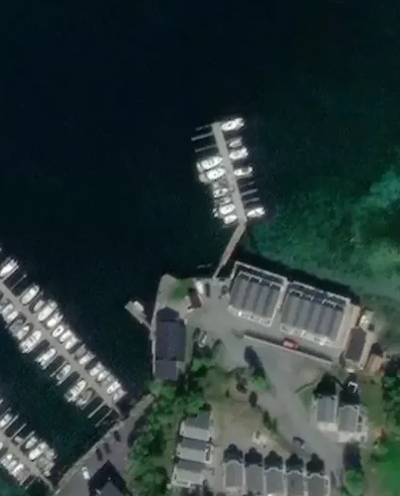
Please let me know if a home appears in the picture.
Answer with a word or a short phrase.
Yes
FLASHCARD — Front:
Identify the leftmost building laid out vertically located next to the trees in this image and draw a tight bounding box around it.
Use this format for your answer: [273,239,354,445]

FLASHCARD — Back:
[155,309,187,382]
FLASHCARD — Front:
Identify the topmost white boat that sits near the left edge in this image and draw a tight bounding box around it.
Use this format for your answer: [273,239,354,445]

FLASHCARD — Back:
[0,260,17,276]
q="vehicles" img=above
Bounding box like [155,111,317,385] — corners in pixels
[199,332,208,345]
[192,328,201,340]
[103,442,112,455]
[204,284,211,297]
[293,437,306,446]
[113,430,122,444]
[283,340,297,348]
[80,468,90,481]
[196,281,204,295]
[94,448,104,461]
